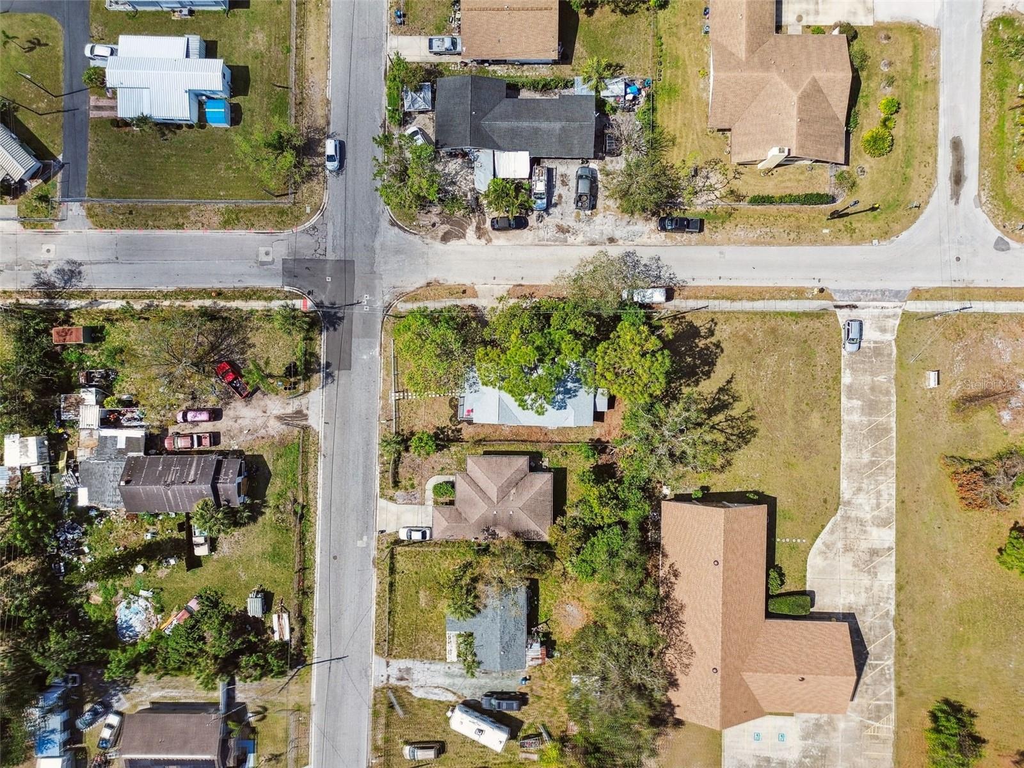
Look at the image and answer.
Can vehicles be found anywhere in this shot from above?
Yes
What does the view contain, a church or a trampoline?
church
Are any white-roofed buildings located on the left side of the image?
Yes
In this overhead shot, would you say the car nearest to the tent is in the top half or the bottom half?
top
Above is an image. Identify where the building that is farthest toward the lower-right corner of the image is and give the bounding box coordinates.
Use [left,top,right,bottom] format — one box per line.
[660,495,858,729]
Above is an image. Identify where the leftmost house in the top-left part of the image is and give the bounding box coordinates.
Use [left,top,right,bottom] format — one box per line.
[0,118,53,186]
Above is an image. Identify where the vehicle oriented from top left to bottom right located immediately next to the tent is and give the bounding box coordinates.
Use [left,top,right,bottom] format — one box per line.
[407,122,434,155]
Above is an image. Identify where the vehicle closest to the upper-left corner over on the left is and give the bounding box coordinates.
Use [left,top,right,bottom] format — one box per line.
[84,43,118,61]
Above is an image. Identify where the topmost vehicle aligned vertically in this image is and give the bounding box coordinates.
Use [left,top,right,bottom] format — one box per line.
[324,138,340,172]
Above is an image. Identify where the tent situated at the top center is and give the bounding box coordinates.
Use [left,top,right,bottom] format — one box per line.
[404,84,432,117]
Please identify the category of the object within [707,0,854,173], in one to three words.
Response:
house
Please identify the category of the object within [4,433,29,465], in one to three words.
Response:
shed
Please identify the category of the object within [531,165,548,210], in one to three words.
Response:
vehicle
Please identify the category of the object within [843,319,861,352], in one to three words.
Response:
car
